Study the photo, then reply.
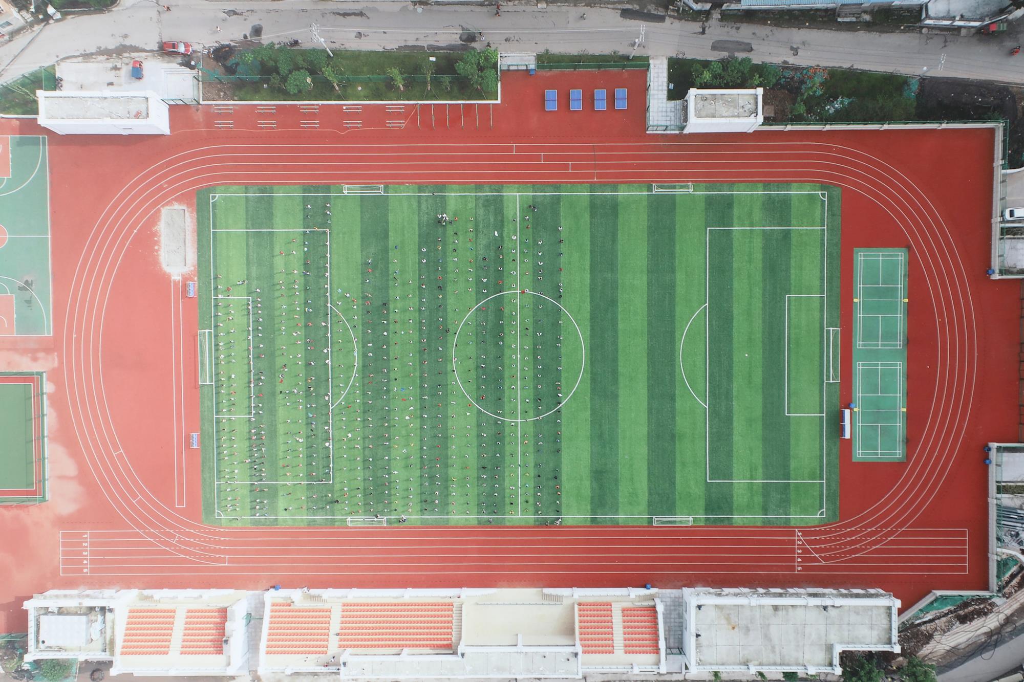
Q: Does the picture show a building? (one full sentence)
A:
Yes, the frame does contain a building.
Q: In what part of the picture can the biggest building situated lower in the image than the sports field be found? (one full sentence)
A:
The biggest building situated lower in the image than the sports field appears toward the bottom right of the photo.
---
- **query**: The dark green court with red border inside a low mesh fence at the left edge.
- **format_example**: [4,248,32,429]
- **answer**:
[0,372,49,506]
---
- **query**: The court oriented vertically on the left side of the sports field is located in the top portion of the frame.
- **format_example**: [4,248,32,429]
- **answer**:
[0,135,52,336]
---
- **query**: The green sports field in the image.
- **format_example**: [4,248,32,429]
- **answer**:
[196,183,841,526]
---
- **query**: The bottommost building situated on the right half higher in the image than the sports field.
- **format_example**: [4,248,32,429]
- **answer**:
[681,86,765,132]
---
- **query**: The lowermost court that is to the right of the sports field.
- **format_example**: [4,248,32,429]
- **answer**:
[853,355,907,462]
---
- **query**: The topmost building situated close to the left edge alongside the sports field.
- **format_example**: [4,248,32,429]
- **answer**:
[34,89,170,134]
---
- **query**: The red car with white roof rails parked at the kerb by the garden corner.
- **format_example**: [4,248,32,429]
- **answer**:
[162,39,193,56]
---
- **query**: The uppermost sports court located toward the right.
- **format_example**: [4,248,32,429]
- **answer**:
[853,248,908,355]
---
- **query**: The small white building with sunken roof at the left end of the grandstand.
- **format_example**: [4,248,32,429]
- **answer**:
[27,589,127,659]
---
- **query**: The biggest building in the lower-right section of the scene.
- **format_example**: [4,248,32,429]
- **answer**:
[679,588,899,672]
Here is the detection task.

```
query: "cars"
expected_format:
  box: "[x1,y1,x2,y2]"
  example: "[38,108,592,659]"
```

[162,39,193,56]
[1002,207,1024,222]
